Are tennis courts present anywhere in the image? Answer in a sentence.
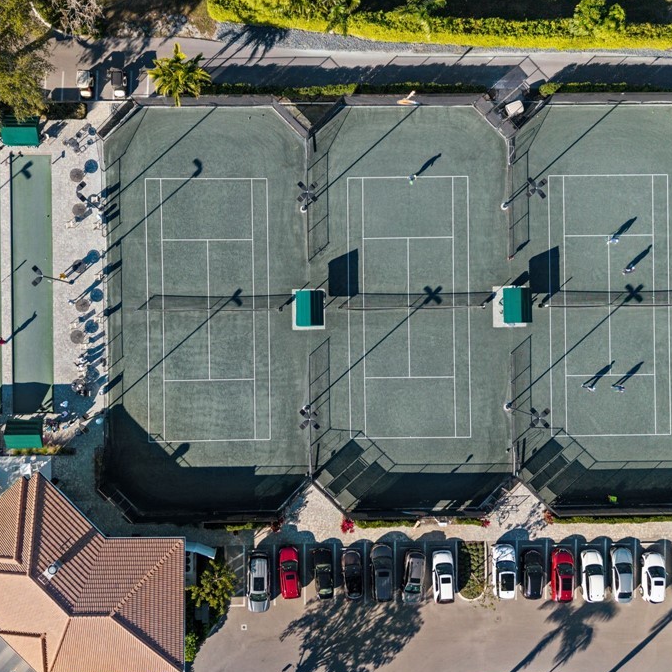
Yes, there's a tennis court down there.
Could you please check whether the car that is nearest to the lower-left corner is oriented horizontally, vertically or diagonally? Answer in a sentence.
The car that is nearest to the lower-left corner runs vertically in the image.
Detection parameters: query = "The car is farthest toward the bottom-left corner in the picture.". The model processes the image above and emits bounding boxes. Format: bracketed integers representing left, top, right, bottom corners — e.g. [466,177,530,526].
[245,550,271,611]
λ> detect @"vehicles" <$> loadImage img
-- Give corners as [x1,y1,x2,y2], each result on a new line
[311,546,335,599]
[503,99,527,125]
[520,547,546,598]
[76,71,95,102]
[109,70,127,101]
[340,548,364,599]
[431,548,456,603]
[490,542,518,599]
[638,551,666,603]
[578,548,606,602]
[245,550,271,611]
[549,547,576,602]
[607,546,635,602]
[401,548,426,602]
[277,545,302,599]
